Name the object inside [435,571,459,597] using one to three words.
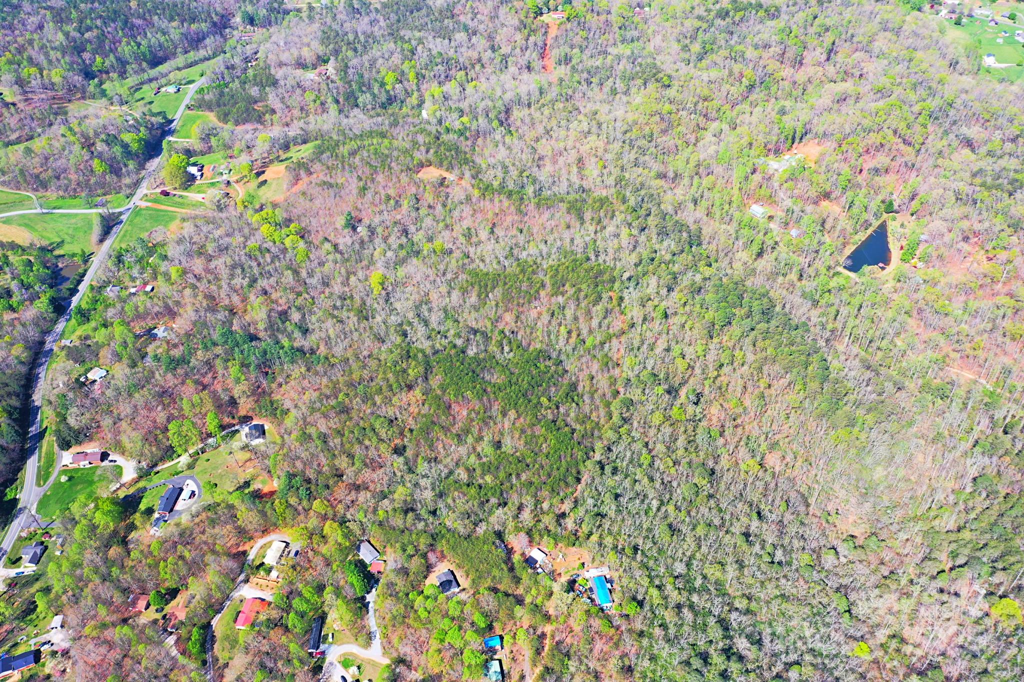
house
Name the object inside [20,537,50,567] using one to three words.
house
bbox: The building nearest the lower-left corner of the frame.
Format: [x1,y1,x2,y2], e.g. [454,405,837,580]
[0,649,38,680]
